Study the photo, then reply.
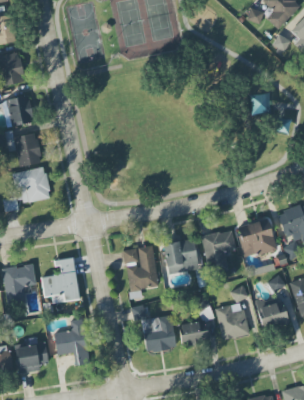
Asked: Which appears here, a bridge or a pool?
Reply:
pool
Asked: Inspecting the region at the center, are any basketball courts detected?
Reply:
No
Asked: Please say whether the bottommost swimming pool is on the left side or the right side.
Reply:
left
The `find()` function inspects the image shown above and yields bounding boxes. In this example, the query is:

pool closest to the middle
[169,274,191,288]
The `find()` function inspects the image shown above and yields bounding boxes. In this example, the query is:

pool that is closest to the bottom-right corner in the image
[255,282,275,302]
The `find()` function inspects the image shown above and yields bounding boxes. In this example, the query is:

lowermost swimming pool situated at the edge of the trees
[46,316,71,336]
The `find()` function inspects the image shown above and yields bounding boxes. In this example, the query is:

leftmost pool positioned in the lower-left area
[24,291,41,317]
